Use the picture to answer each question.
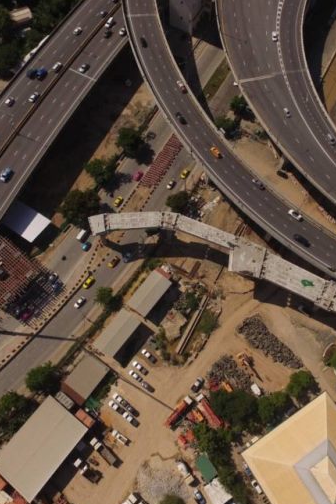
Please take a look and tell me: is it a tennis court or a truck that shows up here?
truck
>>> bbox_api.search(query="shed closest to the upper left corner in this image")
[11,7,34,30]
